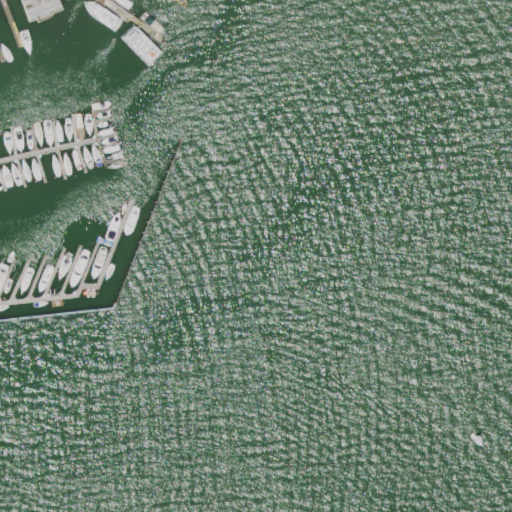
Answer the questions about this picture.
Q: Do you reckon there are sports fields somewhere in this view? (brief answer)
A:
No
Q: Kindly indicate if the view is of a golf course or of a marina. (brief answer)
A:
marina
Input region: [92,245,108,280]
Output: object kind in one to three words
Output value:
boat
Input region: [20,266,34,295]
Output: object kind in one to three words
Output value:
boat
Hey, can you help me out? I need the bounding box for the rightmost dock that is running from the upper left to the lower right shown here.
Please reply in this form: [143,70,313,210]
[94,0,160,40]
